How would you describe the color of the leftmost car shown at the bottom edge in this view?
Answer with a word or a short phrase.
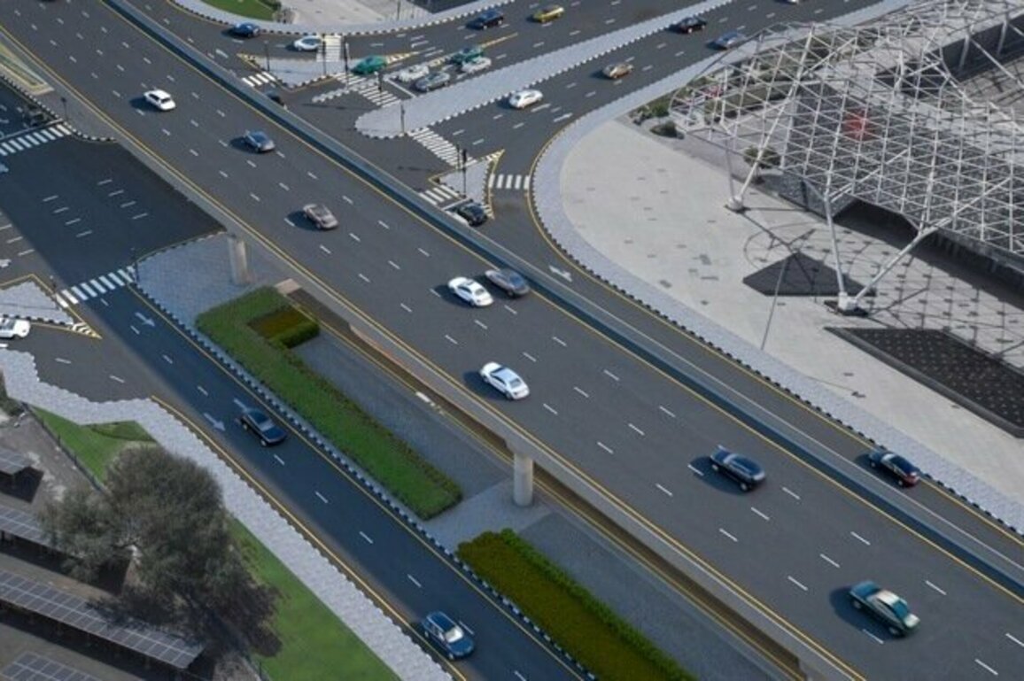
blue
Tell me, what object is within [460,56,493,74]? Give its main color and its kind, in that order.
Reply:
white car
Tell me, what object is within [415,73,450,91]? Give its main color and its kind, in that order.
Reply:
gray car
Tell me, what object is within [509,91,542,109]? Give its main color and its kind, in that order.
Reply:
white car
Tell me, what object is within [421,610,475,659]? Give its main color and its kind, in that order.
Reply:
blue car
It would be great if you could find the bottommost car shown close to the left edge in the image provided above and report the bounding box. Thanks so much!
[0,317,36,340]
